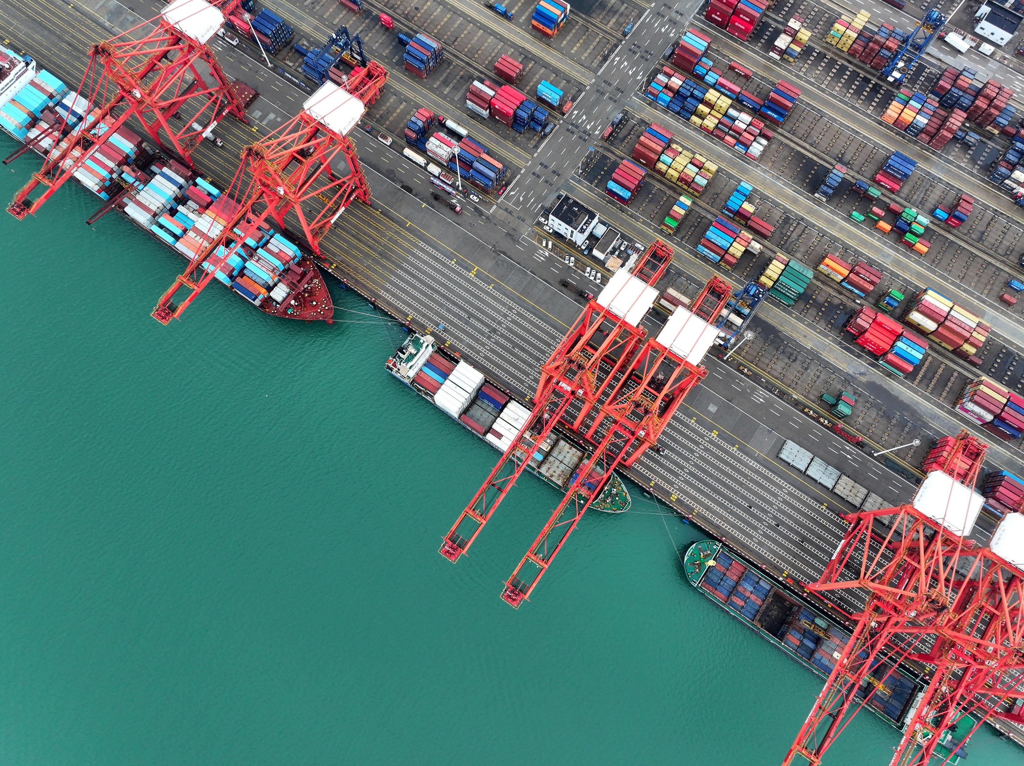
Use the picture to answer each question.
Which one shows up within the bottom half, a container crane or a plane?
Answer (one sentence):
Visible within the bottom half is a container crane.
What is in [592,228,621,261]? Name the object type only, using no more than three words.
building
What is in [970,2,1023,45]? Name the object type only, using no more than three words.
building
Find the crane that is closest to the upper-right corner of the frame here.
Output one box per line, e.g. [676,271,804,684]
[880,7,947,86]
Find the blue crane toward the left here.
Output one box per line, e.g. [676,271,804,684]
[308,24,366,88]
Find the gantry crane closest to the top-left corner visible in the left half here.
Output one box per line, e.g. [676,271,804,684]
[0,0,251,235]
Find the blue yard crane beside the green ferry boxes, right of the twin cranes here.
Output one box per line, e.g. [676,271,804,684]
[717,278,769,350]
